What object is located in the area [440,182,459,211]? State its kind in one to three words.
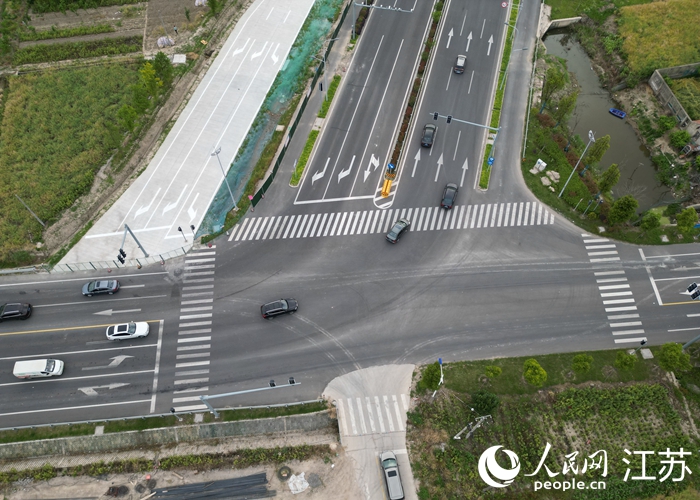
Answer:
car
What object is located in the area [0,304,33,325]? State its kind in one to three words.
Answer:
car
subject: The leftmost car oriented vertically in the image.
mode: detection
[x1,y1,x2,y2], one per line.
[379,451,407,500]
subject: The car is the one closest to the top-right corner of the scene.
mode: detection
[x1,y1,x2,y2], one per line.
[453,55,468,75]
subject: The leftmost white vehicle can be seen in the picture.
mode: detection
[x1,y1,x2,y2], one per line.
[8,358,59,381]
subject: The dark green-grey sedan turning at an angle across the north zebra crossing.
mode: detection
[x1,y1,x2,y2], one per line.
[383,217,412,246]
